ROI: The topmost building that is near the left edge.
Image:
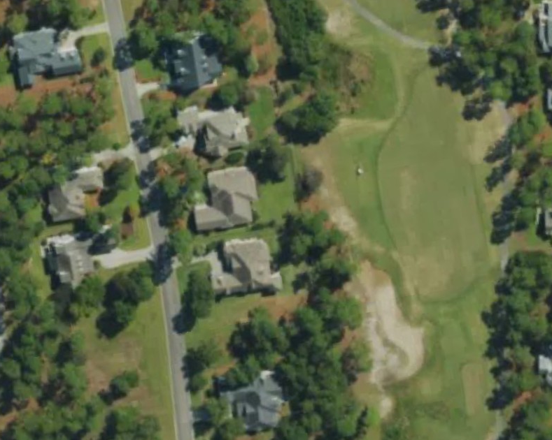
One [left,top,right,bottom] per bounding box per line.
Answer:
[11,25,83,86]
